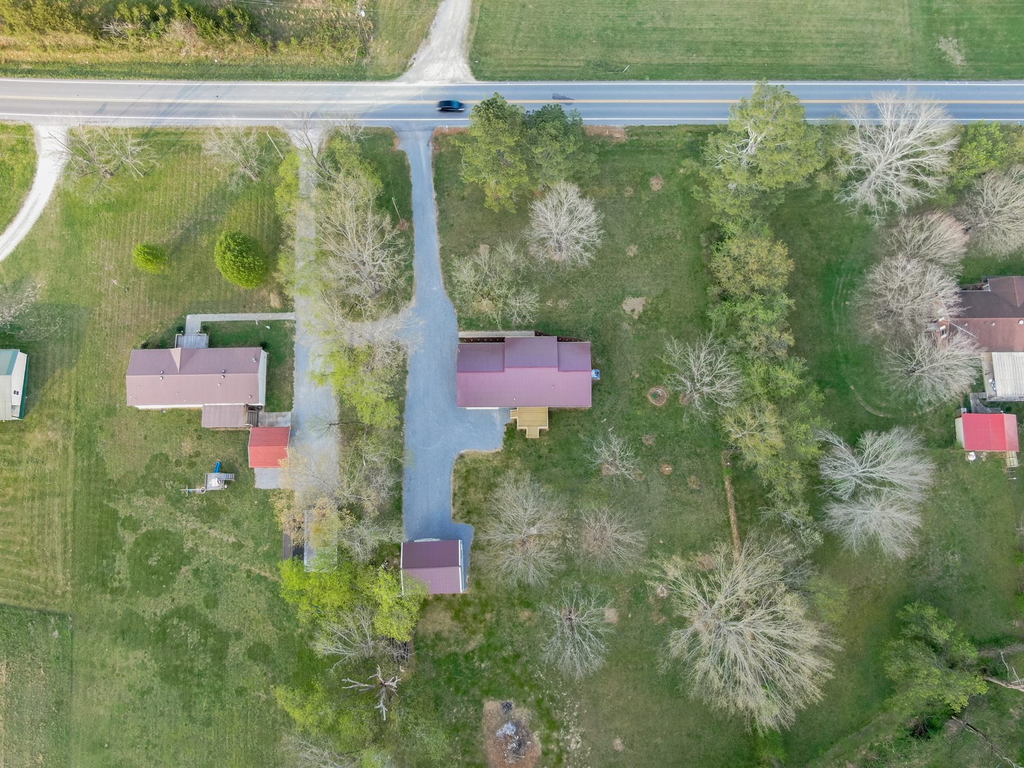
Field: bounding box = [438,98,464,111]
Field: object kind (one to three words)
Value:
vehicle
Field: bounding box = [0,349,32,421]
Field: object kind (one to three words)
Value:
barn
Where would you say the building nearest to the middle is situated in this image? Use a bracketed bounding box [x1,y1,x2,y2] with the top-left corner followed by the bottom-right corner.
[457,336,592,409]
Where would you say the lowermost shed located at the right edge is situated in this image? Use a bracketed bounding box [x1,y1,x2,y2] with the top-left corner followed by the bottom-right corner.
[948,409,1020,452]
